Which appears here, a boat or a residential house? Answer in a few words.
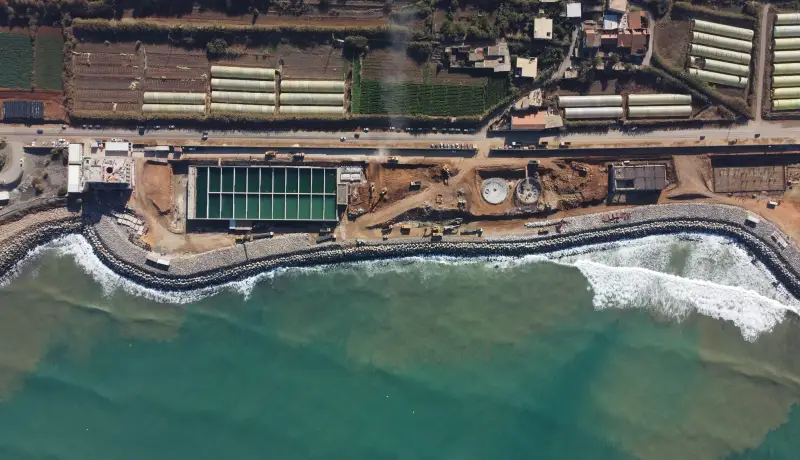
residential house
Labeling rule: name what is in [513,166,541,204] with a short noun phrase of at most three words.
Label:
storage tank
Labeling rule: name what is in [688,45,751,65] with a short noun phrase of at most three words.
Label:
greenhouse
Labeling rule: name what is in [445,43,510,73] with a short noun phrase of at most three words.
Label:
house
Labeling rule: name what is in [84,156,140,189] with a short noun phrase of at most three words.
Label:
building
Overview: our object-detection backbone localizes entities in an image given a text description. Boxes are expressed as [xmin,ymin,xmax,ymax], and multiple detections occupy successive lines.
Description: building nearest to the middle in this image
[338,166,362,205]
